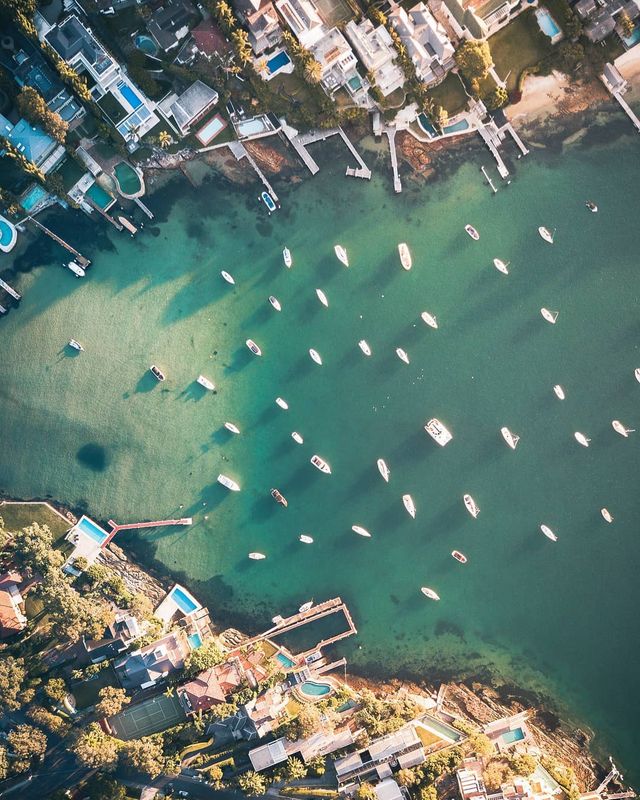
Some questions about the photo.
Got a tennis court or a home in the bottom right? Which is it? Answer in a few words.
home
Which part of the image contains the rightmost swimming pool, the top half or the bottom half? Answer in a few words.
top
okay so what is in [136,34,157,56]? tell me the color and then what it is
blue swimming pool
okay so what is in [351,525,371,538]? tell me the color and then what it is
white boat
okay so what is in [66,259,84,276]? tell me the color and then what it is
white boat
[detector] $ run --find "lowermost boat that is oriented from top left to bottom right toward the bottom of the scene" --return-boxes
[420,587,440,604]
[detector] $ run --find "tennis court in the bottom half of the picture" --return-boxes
[109,691,184,743]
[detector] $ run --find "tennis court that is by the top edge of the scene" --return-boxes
[318,0,362,24]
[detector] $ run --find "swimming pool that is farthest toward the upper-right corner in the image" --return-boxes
[618,26,640,52]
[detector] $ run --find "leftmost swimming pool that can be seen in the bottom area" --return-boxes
[63,513,111,577]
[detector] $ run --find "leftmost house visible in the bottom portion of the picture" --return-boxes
[0,568,30,641]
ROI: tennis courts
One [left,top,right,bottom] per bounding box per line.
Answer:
[109,691,184,743]
[318,0,362,24]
